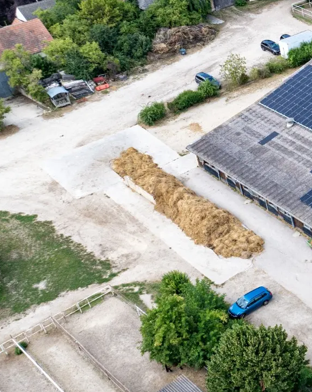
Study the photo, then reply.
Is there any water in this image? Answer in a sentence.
No, the scene doesn't show any water.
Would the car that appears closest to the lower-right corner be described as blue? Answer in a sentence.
Yes, the car that appears closest to the lower-right corner is blue.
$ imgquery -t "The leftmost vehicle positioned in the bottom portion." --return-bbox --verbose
[228,292,276,321]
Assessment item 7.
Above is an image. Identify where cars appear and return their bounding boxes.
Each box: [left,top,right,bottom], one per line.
[192,72,221,86]
[257,41,282,56]
[276,33,288,45]
[228,292,276,321]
